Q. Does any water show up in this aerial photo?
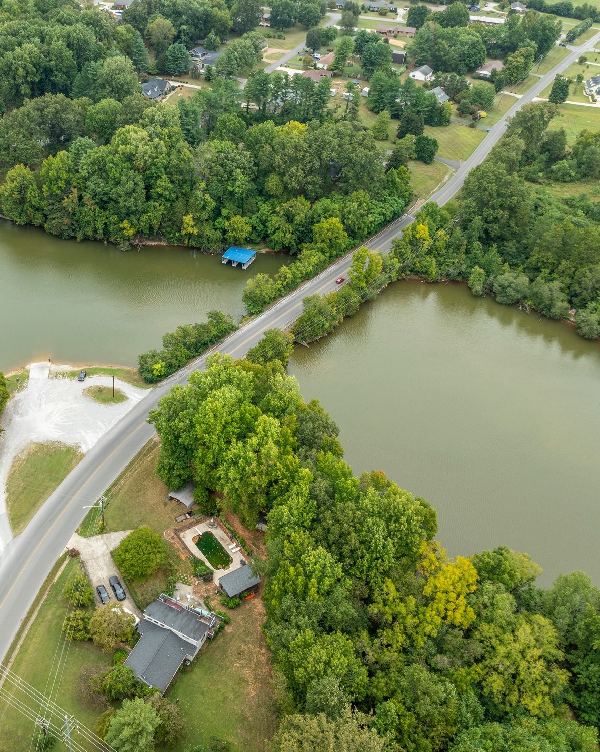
Yes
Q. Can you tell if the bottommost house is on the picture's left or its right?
left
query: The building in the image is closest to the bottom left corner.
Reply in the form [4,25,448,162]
[129,587,229,697]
